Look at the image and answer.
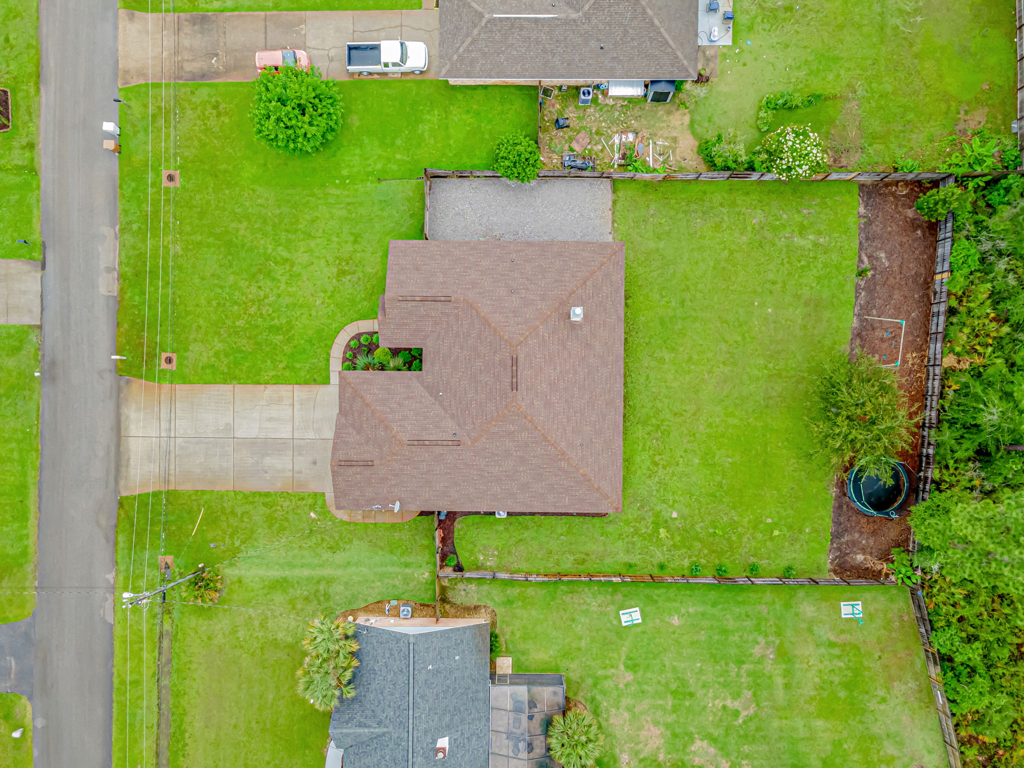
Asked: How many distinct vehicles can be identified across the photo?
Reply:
2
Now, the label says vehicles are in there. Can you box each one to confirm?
[346,39,429,75]
[255,46,310,75]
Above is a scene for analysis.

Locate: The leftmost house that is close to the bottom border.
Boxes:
[326,617,491,768]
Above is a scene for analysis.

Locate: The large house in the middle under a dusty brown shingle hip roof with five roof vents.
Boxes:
[331,240,625,513]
